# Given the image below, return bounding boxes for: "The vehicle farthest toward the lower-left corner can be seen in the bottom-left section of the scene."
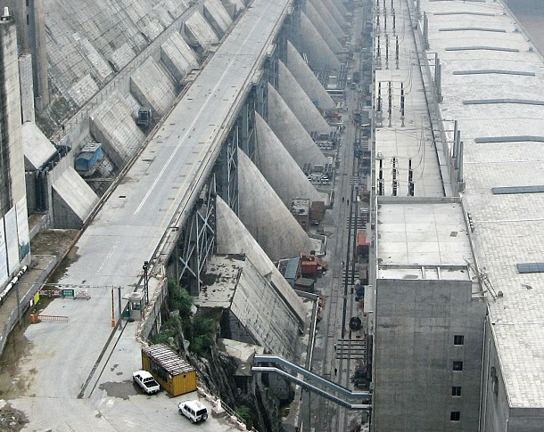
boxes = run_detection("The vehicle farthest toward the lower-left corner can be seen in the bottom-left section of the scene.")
[125,367,158,390]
